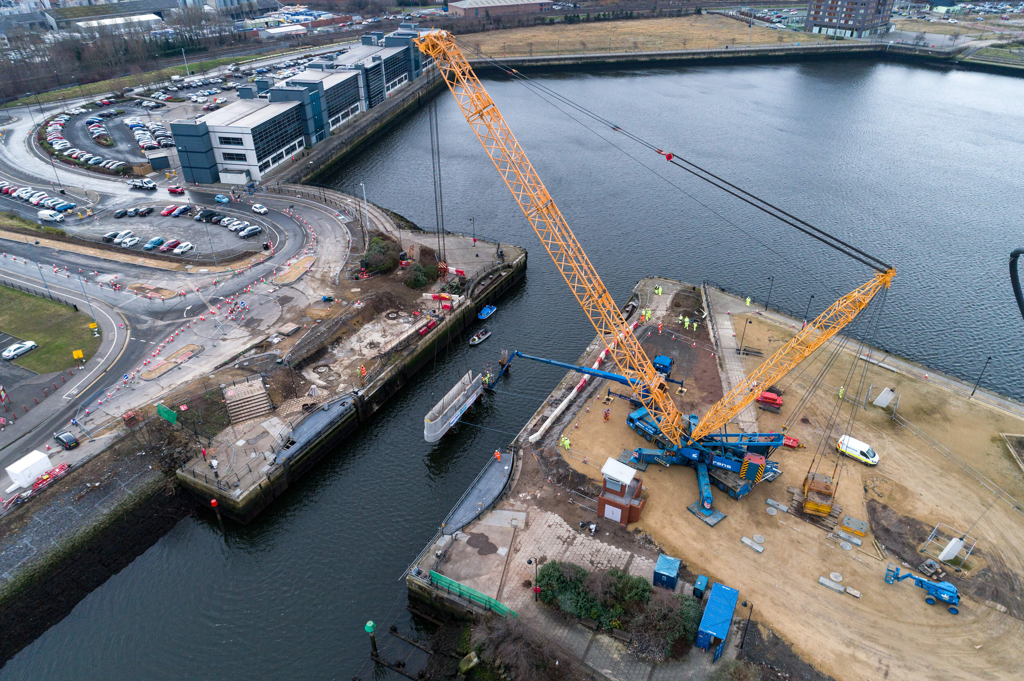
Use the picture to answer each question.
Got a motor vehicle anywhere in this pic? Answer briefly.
Yes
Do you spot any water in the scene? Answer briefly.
Yes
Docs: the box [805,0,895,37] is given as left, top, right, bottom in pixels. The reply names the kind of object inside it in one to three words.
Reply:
building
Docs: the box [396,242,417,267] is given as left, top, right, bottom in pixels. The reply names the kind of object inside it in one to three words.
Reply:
work vehicle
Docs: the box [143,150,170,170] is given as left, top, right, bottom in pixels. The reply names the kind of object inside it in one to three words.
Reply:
shed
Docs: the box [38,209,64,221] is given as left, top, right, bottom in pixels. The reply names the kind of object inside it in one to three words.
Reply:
vehicle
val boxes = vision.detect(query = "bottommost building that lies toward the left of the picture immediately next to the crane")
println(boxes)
[168,27,434,185]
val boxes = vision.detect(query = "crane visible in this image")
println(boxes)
[400,37,896,517]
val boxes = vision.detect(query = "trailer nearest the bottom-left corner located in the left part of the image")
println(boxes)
[0,447,52,494]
